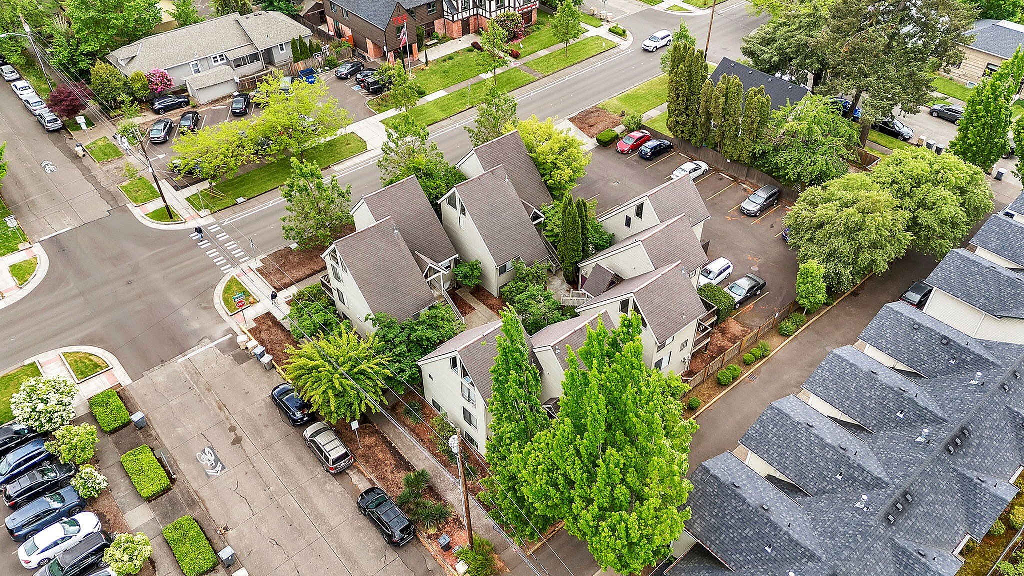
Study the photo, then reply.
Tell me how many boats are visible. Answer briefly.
0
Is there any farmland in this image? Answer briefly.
No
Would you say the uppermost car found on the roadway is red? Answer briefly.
No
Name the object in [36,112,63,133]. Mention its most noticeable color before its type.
gray car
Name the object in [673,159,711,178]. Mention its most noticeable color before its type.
white car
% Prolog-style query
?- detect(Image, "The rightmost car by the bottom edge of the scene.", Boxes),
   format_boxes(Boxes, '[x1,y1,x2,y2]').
[357,488,416,549]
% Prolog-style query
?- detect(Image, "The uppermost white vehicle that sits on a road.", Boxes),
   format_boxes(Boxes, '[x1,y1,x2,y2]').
[642,29,672,52]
